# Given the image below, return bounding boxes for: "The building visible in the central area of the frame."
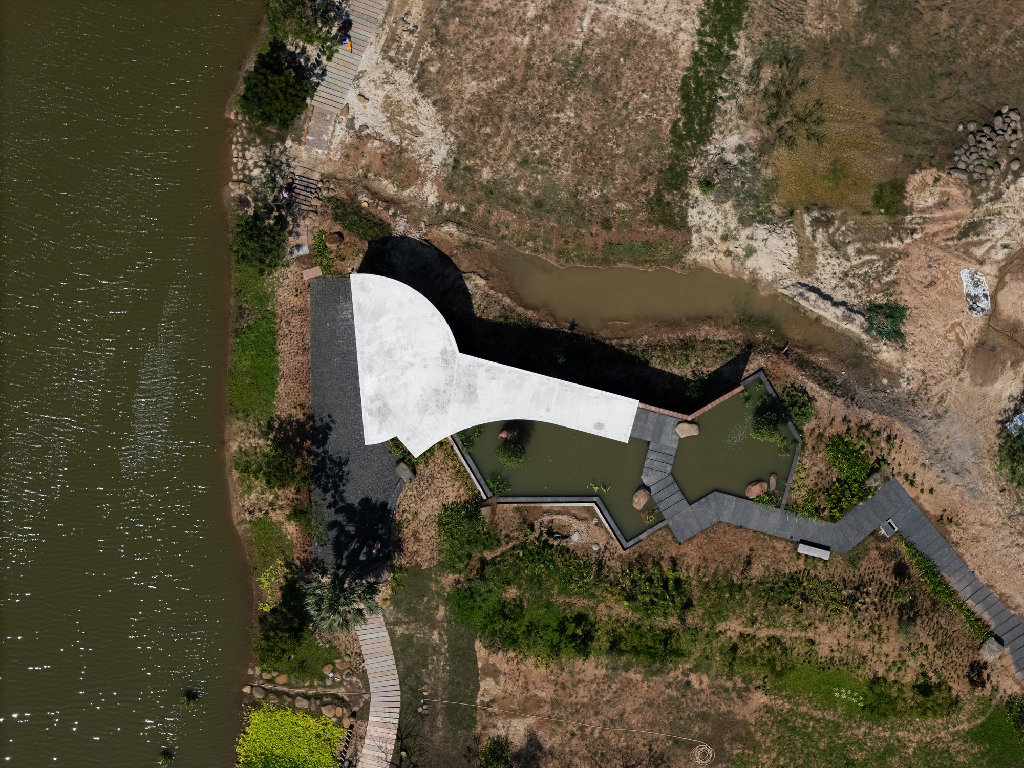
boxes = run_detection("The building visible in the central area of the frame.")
[351,273,638,458]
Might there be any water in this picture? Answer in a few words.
Yes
